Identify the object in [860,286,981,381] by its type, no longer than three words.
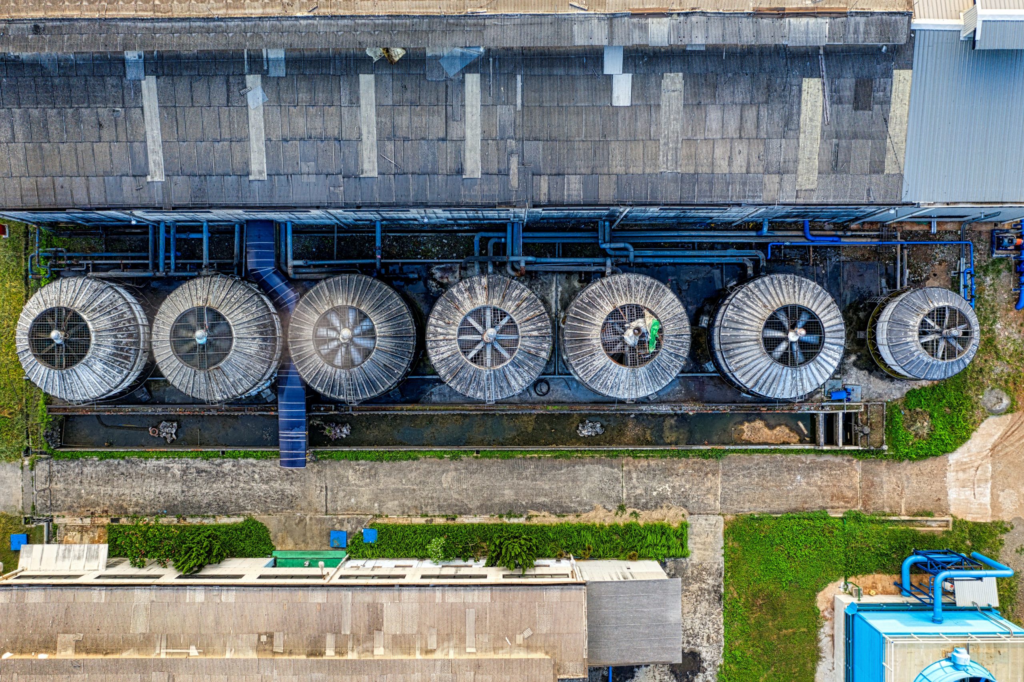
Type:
cooling tower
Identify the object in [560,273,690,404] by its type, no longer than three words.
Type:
cooling tower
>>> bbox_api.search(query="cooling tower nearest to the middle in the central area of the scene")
[426,274,553,405]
